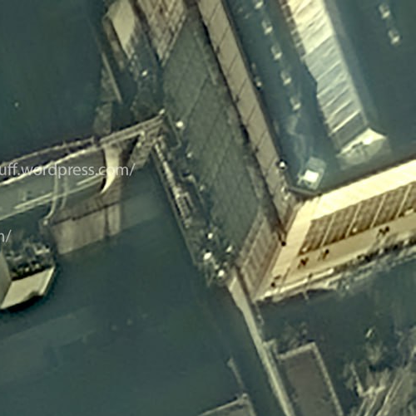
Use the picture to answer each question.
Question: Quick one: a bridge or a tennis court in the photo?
bridge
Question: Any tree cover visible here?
No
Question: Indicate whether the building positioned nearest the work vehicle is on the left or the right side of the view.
right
